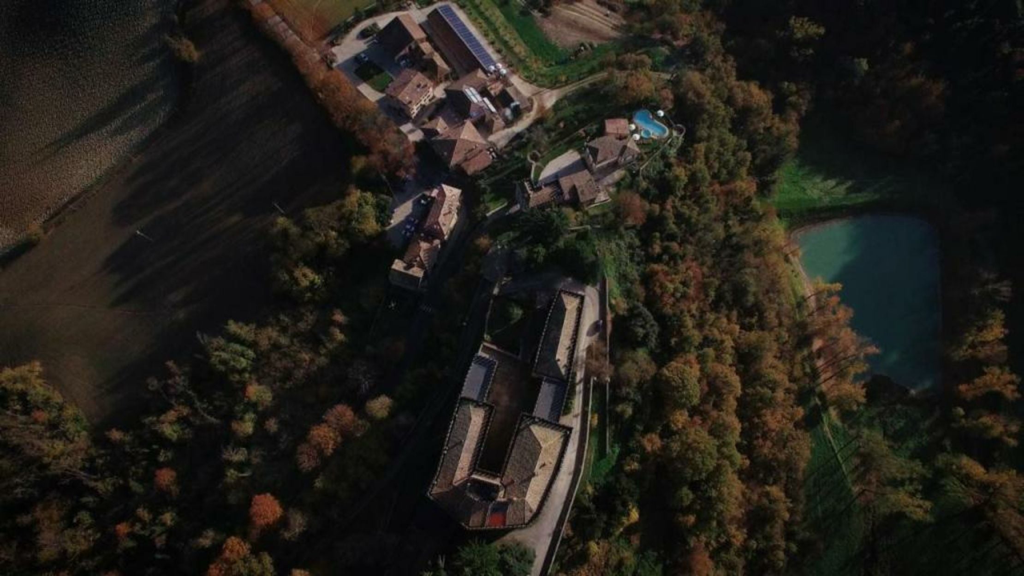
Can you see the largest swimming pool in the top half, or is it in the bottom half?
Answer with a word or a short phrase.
top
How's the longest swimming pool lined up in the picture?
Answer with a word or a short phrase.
on a diagonal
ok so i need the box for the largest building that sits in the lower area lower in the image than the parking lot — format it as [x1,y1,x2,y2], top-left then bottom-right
[428,289,585,530]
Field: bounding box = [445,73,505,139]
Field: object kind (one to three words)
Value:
building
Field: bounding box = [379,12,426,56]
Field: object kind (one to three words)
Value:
house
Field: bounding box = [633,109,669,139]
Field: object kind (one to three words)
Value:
swimming pool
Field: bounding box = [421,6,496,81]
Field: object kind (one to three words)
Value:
barn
